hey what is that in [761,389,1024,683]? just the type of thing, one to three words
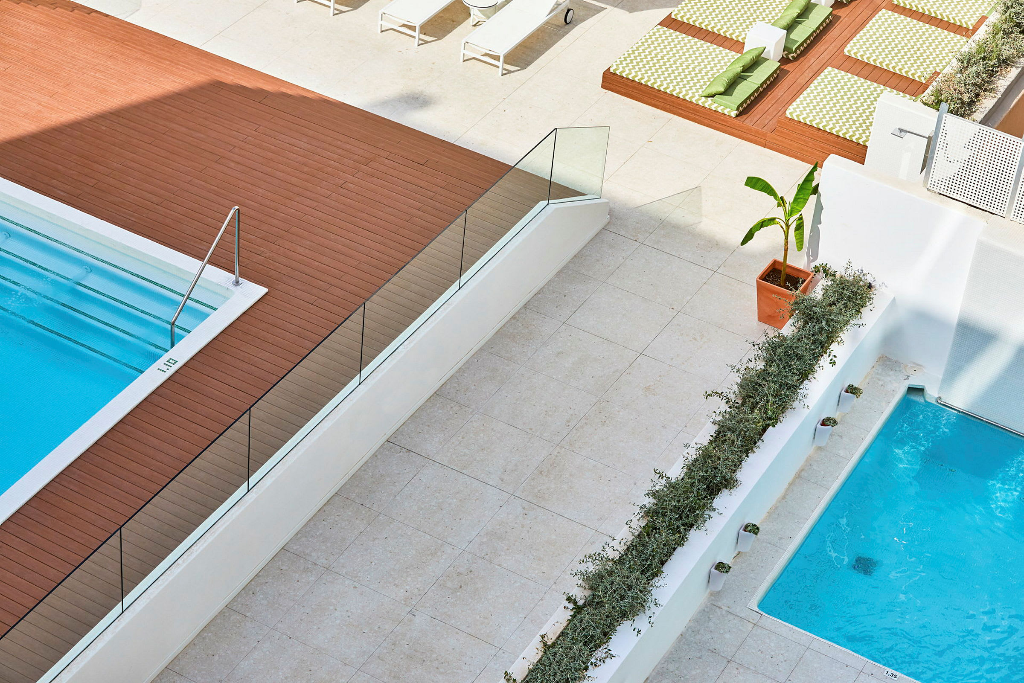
swimming pool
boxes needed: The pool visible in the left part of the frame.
[0,194,235,486]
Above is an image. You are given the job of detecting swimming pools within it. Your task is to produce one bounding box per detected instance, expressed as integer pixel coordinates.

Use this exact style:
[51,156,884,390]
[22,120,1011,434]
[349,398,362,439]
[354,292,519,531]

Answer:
[0,194,235,486]
[761,389,1024,683]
